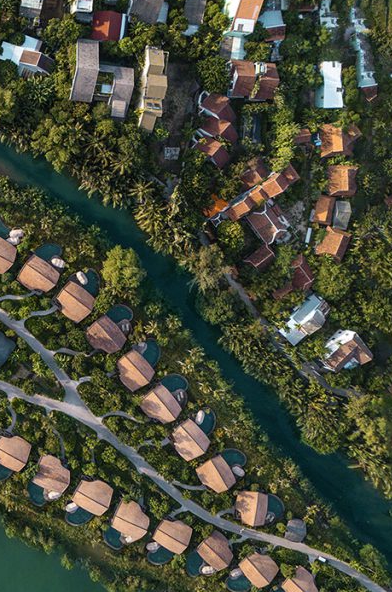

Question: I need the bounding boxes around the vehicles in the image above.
[305,227,314,241]
[316,554,328,563]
